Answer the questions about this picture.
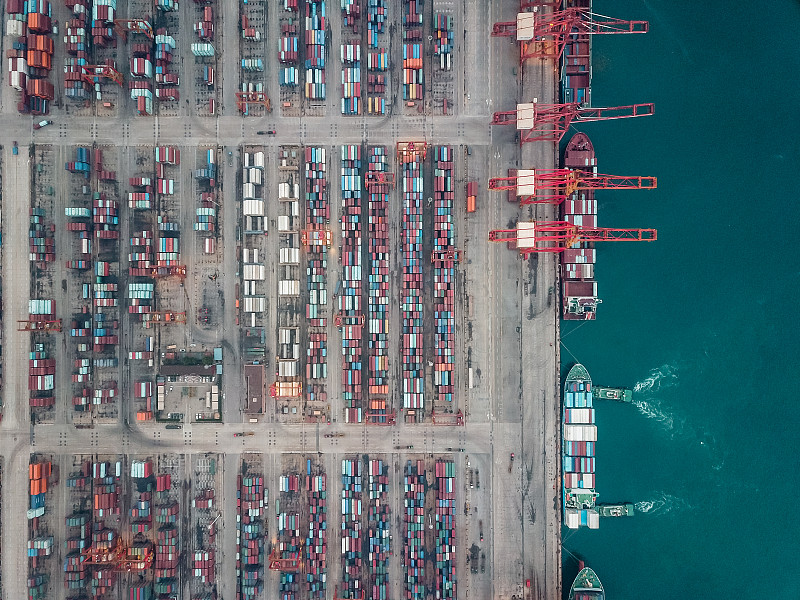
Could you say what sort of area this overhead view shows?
port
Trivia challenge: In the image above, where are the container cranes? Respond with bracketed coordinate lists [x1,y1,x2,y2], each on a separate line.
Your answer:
[77,65,123,86]
[269,381,306,398]
[490,101,656,149]
[145,311,188,324]
[331,313,366,327]
[12,319,62,331]
[490,9,649,68]
[430,250,466,263]
[78,541,124,564]
[432,408,468,424]
[362,173,397,190]
[112,19,155,41]
[145,266,188,279]
[363,408,397,424]
[490,165,659,208]
[297,230,334,245]
[266,545,303,572]
[112,548,155,572]
[490,216,659,255]
[395,141,429,160]
[232,92,270,112]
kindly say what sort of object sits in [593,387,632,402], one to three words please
boat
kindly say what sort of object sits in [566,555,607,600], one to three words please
ship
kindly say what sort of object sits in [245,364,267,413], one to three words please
building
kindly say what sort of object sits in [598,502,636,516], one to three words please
boat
